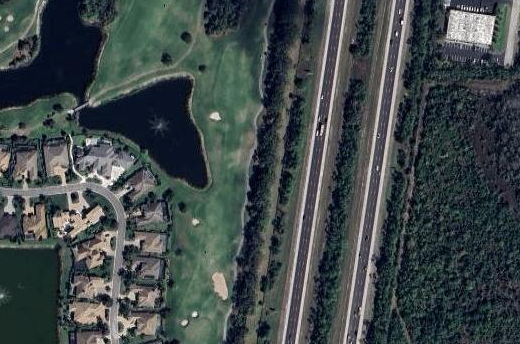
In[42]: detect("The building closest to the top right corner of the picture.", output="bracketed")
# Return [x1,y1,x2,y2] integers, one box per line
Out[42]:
[447,10,497,45]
